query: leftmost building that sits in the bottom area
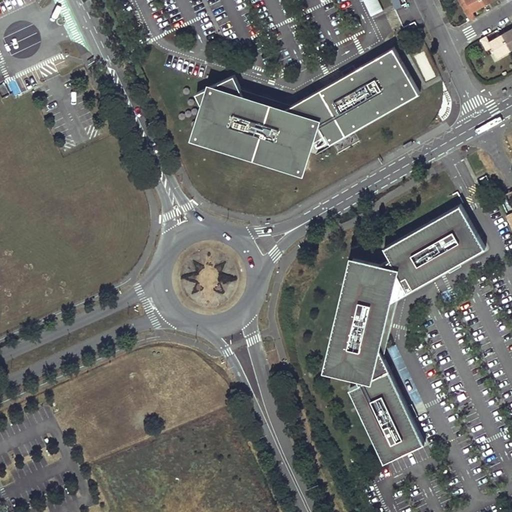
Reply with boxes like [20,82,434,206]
[322,190,486,466]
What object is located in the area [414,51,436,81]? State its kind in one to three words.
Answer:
shed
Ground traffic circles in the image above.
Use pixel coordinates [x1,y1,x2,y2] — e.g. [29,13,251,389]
[152,220,267,334]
